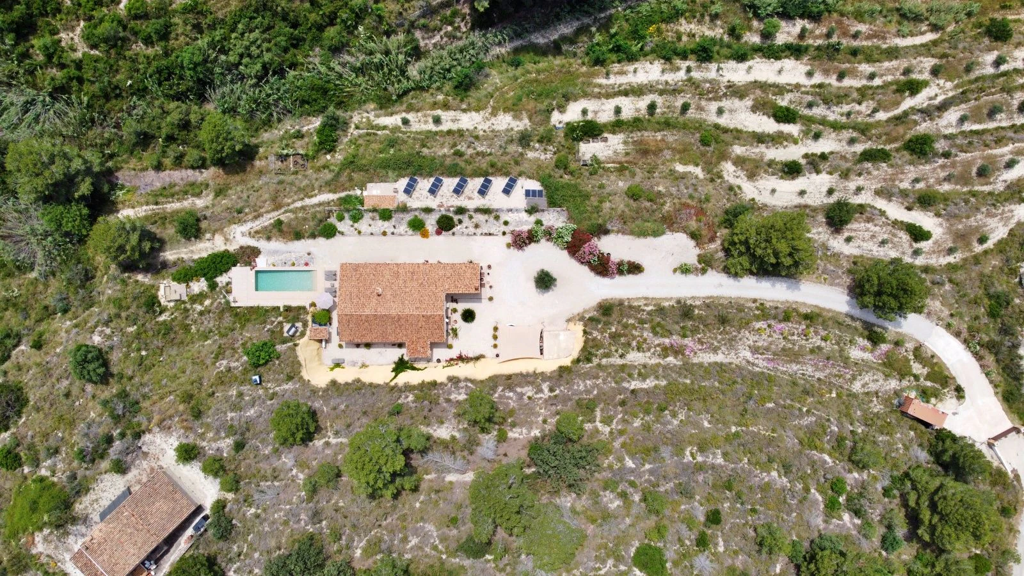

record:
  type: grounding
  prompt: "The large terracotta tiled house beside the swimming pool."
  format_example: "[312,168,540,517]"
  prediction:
[337,263,480,358]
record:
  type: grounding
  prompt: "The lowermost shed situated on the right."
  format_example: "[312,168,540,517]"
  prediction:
[893,394,948,428]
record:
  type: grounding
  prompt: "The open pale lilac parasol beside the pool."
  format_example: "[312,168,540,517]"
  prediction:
[317,293,333,309]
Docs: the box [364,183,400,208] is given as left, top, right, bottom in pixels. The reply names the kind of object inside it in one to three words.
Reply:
shed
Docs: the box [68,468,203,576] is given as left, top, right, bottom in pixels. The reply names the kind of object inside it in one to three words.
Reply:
house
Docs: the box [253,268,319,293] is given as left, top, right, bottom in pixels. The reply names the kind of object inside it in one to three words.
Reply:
swimming pool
